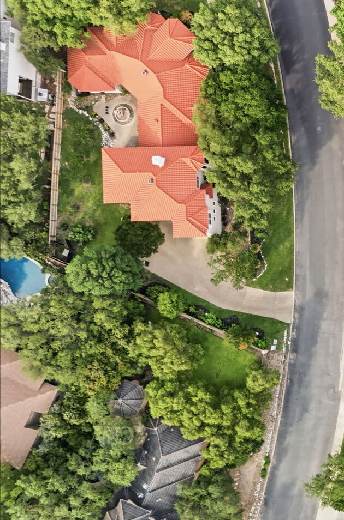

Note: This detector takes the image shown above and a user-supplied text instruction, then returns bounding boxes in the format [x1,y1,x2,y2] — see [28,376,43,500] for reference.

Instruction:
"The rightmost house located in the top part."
[68,12,220,238]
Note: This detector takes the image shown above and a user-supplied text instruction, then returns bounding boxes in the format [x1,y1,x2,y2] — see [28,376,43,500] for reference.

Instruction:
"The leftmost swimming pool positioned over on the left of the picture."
[0,253,48,300]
